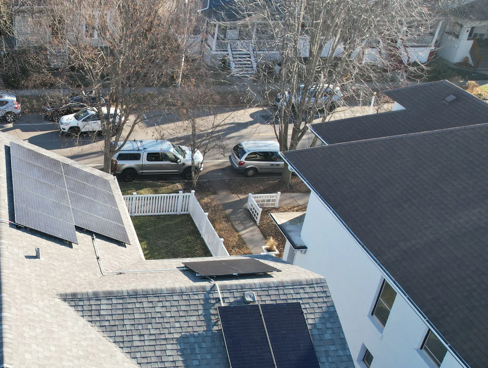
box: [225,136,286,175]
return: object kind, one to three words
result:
van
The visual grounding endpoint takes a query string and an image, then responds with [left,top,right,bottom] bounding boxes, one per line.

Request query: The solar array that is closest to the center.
[182,258,282,278]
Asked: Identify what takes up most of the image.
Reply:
buildings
